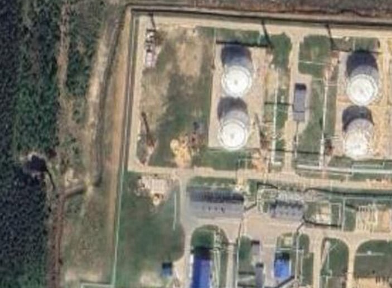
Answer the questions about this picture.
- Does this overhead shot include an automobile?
No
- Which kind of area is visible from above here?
industrial area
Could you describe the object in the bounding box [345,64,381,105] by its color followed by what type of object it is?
white storage tank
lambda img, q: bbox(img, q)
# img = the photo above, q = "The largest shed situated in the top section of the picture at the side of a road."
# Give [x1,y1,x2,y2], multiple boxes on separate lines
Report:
[293,88,306,121]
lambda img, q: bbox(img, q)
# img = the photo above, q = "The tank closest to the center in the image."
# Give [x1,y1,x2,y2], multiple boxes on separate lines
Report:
[216,111,250,150]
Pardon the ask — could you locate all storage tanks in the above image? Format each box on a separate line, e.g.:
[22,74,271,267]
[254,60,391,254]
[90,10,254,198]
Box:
[345,64,381,105]
[221,56,254,96]
[341,117,375,158]
[216,111,250,150]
